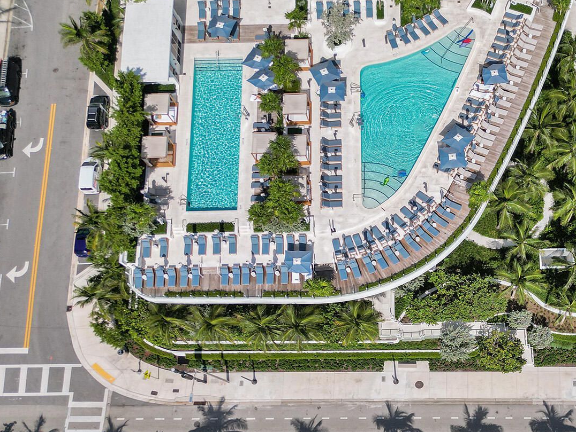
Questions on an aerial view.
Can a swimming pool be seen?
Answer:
Yes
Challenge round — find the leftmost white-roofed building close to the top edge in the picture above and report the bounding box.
[120,0,182,98]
